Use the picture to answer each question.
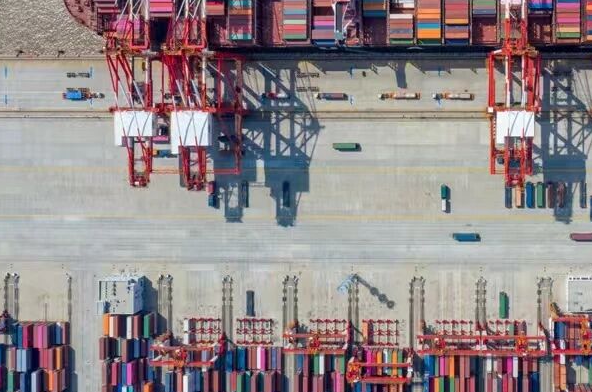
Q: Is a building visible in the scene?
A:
Yes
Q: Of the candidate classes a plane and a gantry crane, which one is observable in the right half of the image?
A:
gantry crane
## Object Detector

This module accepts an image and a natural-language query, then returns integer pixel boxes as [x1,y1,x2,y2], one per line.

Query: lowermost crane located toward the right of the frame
[347,346,415,381]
